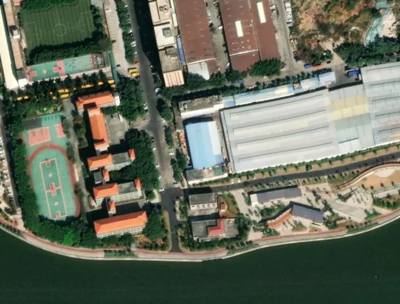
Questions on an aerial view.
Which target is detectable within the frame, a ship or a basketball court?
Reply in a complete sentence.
Looking from above, you can make out a basketball court.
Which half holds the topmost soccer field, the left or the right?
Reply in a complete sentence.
It is on the left.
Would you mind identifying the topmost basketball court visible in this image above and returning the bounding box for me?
[26,55,86,82]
